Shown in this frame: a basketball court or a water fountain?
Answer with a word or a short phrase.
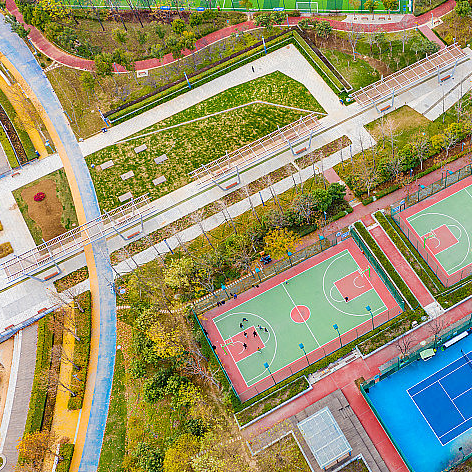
basketball court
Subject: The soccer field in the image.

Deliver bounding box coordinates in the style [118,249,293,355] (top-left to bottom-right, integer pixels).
[0,0,413,16]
